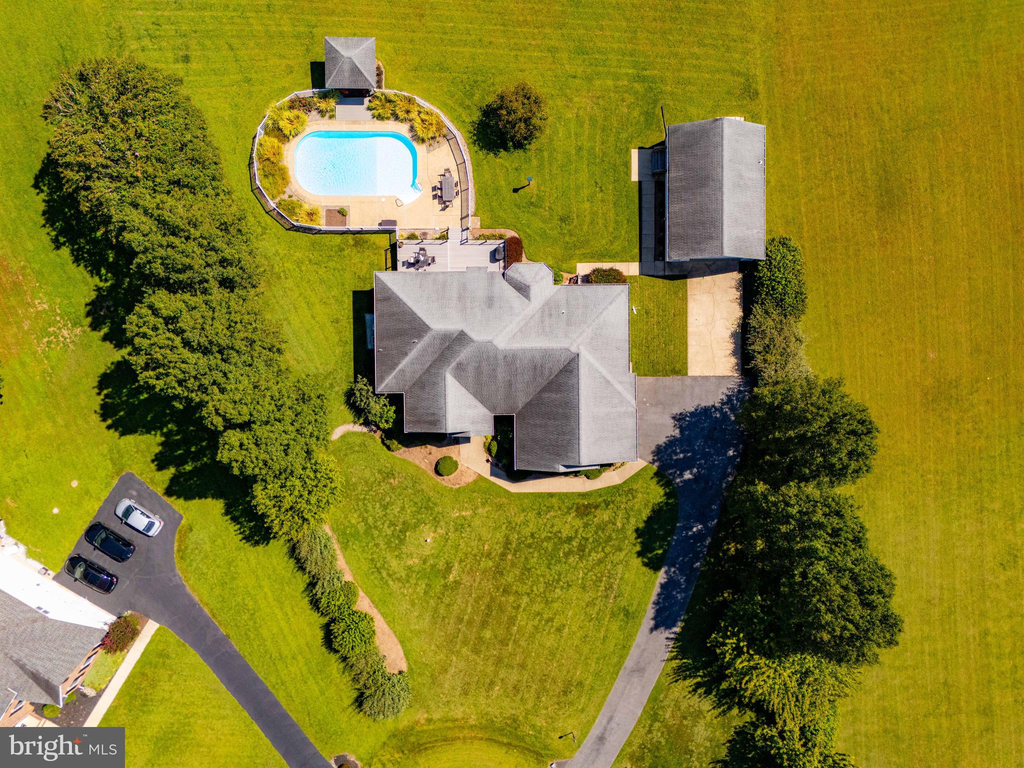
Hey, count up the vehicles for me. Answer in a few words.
3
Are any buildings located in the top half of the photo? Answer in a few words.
Yes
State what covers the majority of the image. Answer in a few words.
grass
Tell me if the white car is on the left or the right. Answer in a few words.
left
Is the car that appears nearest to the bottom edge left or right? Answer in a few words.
left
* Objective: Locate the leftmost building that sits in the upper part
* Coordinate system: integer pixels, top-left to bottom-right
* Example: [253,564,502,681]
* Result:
[324,36,379,97]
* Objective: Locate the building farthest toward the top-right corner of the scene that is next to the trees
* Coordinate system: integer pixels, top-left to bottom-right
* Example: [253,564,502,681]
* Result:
[663,118,766,264]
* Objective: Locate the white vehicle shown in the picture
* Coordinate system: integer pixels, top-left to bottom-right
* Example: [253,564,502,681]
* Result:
[114,498,166,539]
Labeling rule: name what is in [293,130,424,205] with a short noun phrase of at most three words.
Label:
swimming pool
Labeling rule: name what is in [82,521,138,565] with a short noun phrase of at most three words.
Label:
car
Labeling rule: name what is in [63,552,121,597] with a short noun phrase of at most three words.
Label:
car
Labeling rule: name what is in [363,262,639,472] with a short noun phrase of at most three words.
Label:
house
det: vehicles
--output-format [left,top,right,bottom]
[63,552,121,597]
[114,498,166,539]
[82,521,138,565]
